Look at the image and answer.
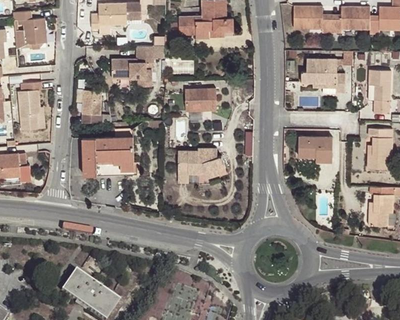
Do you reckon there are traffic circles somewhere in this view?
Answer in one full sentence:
Yes, the picture does show a traffic circle.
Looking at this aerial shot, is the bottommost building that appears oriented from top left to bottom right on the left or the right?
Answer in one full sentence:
You can find the bottommost building that appears oriented from top left to bottom right on the left side of the picture.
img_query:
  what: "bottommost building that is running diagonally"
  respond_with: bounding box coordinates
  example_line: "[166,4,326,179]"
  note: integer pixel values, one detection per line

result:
[62,266,120,317]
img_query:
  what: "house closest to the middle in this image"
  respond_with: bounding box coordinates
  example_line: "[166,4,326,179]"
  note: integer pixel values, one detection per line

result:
[177,147,228,183]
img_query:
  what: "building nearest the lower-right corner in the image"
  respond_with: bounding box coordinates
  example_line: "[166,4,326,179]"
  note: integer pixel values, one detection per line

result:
[368,186,400,227]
